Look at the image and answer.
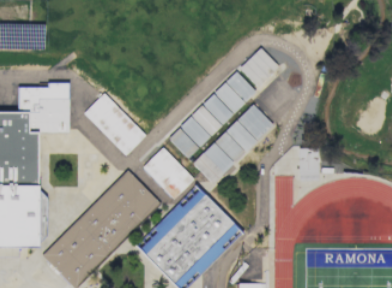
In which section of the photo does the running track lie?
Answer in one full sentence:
Look in the bottom right portion of the view to spot the running track.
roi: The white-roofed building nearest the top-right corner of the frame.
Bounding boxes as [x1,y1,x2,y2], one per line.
[242,47,279,88]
